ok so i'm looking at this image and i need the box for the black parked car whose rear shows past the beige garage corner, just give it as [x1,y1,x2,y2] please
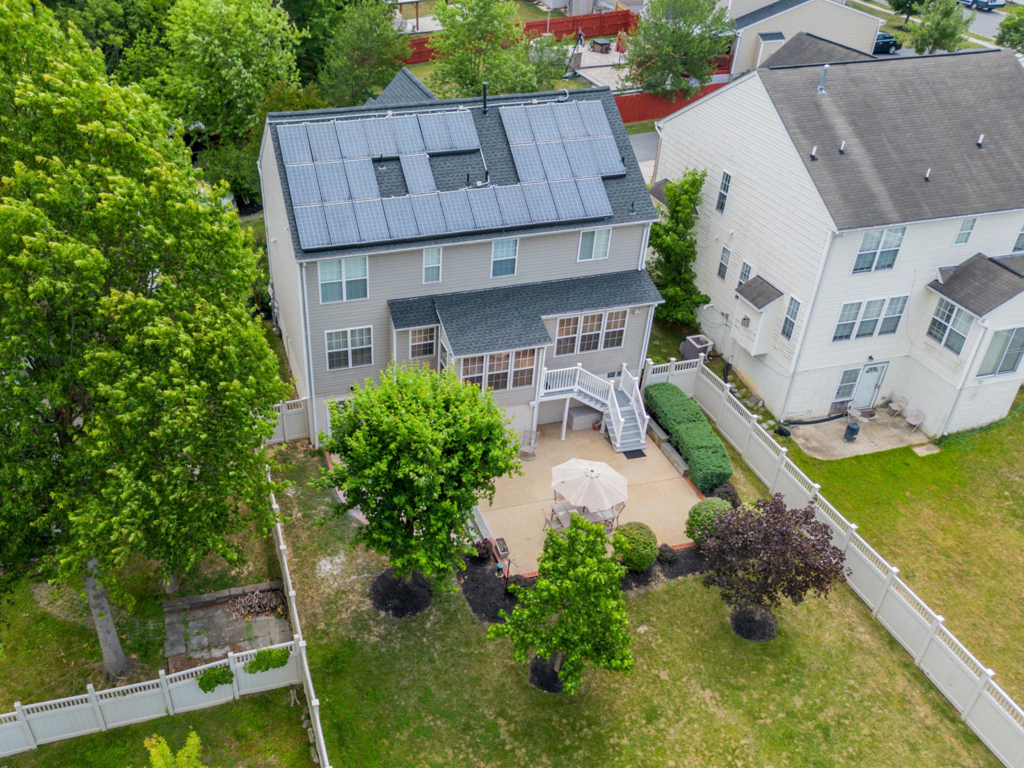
[872,29,912,52]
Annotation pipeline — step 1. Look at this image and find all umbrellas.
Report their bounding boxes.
[549,459,630,515]
[613,27,626,67]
